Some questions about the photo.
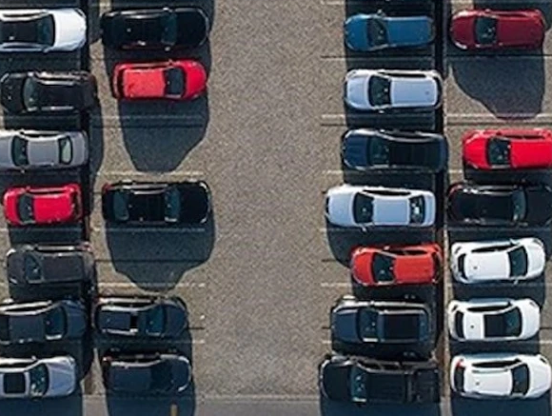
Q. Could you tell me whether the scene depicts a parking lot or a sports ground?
parking lot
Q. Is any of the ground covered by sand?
No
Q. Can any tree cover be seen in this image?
No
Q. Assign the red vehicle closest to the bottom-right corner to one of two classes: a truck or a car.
car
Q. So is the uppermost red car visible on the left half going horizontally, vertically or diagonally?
horizontally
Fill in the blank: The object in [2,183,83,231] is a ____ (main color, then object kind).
red car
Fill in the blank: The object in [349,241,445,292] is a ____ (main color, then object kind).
red car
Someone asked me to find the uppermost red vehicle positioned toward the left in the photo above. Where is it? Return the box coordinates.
[111,58,208,107]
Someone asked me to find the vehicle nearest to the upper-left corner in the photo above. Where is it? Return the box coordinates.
[0,6,88,55]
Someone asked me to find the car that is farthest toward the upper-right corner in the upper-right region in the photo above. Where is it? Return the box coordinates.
[448,7,550,53]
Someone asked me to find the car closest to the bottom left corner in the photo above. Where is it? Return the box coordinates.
[0,352,80,405]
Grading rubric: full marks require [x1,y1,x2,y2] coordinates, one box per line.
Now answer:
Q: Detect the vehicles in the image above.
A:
[324,184,437,233]
[0,6,88,55]
[101,352,193,403]
[101,181,212,228]
[343,7,438,56]
[111,58,208,107]
[0,130,88,176]
[460,128,552,177]
[339,128,450,176]
[330,300,433,352]
[318,354,444,411]
[0,298,87,349]
[6,241,98,294]
[349,241,445,292]
[446,183,552,234]
[448,353,552,406]
[100,6,209,53]
[448,238,547,288]
[0,70,98,120]
[445,296,542,347]
[0,352,80,405]
[344,67,444,115]
[93,295,189,348]
[2,183,83,231]
[448,7,550,53]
